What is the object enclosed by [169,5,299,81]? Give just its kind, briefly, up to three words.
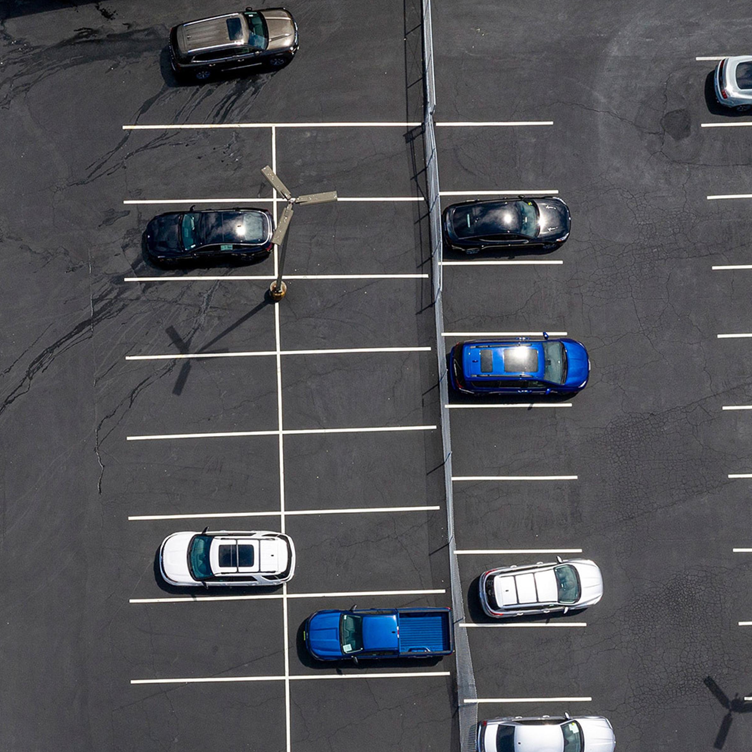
car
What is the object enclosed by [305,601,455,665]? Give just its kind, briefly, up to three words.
truck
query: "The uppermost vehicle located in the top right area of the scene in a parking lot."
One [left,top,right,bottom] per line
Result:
[714,58,752,115]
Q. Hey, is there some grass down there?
No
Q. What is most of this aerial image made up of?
paved ground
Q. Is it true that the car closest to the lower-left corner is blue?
No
